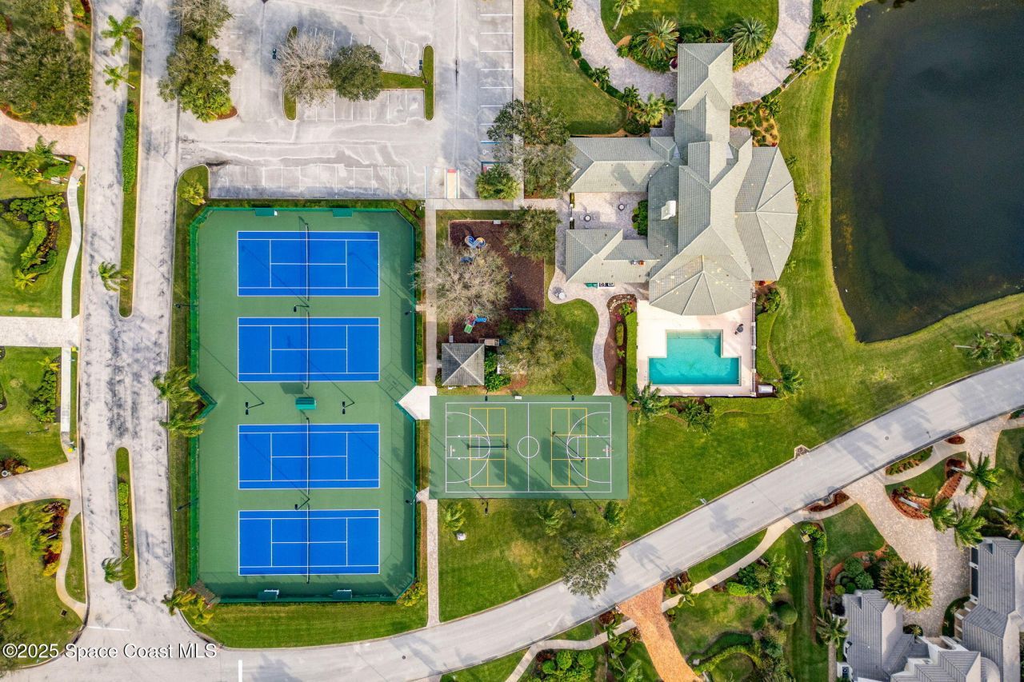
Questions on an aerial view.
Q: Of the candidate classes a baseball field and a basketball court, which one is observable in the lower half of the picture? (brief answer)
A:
basketball court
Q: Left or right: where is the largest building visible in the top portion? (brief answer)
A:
right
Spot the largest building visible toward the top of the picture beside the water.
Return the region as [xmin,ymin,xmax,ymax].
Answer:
[562,43,798,315]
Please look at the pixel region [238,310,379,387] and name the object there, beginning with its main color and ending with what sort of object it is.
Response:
blue tennis court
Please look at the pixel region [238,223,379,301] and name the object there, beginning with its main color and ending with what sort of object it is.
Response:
blue tennis court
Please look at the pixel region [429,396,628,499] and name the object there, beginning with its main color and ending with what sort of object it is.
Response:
green basketball court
